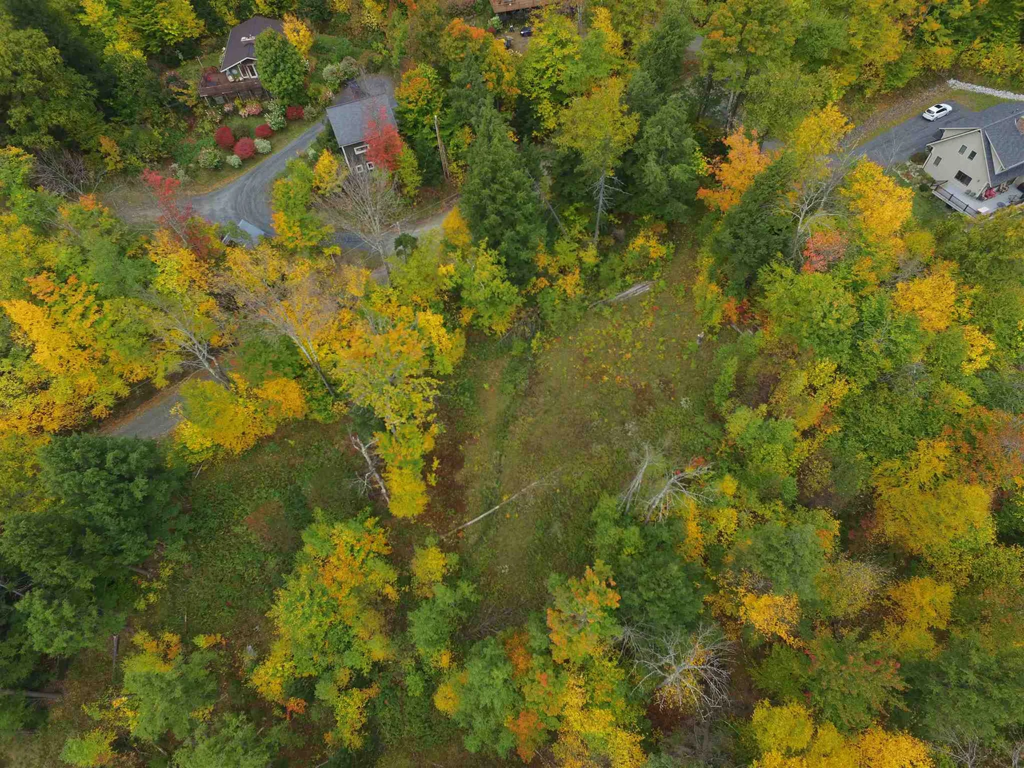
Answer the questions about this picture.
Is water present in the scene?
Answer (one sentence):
No, there is no water in the image.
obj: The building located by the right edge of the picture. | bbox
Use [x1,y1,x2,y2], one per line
[919,94,1024,202]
